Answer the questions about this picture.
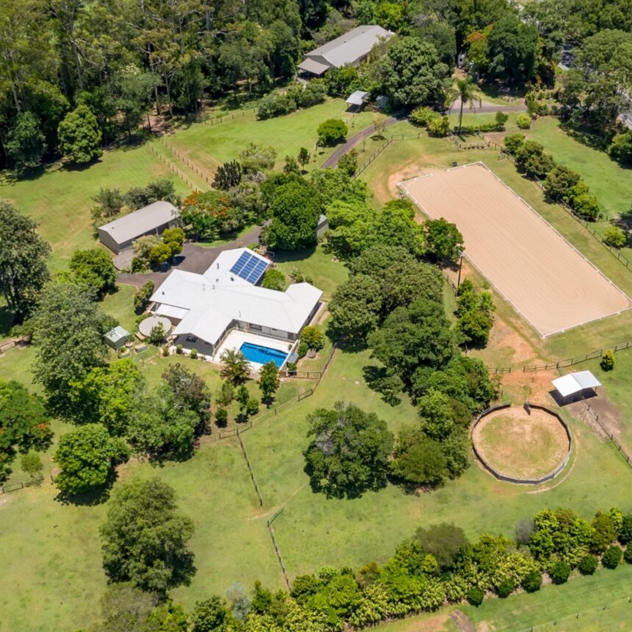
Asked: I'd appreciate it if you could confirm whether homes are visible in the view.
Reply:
Yes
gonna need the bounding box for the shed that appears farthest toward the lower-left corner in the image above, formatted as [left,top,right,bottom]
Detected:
[105,326,131,351]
